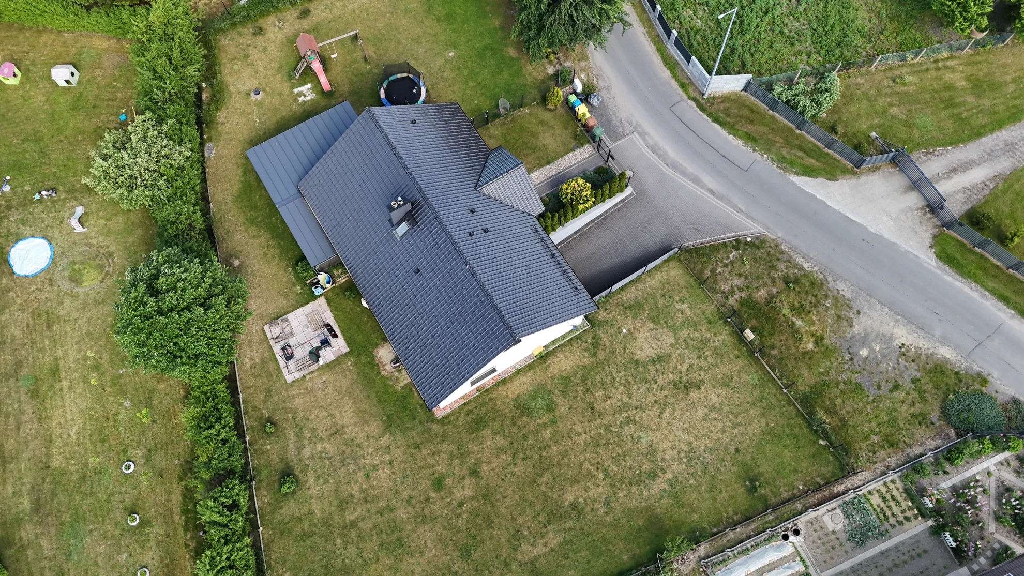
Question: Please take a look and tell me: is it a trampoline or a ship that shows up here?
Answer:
trampoline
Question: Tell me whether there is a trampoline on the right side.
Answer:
No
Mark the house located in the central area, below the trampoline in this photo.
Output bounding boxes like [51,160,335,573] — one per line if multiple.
[296,101,600,419]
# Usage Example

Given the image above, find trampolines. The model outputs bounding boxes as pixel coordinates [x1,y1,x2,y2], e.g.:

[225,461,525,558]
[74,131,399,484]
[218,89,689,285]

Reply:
[376,59,426,105]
